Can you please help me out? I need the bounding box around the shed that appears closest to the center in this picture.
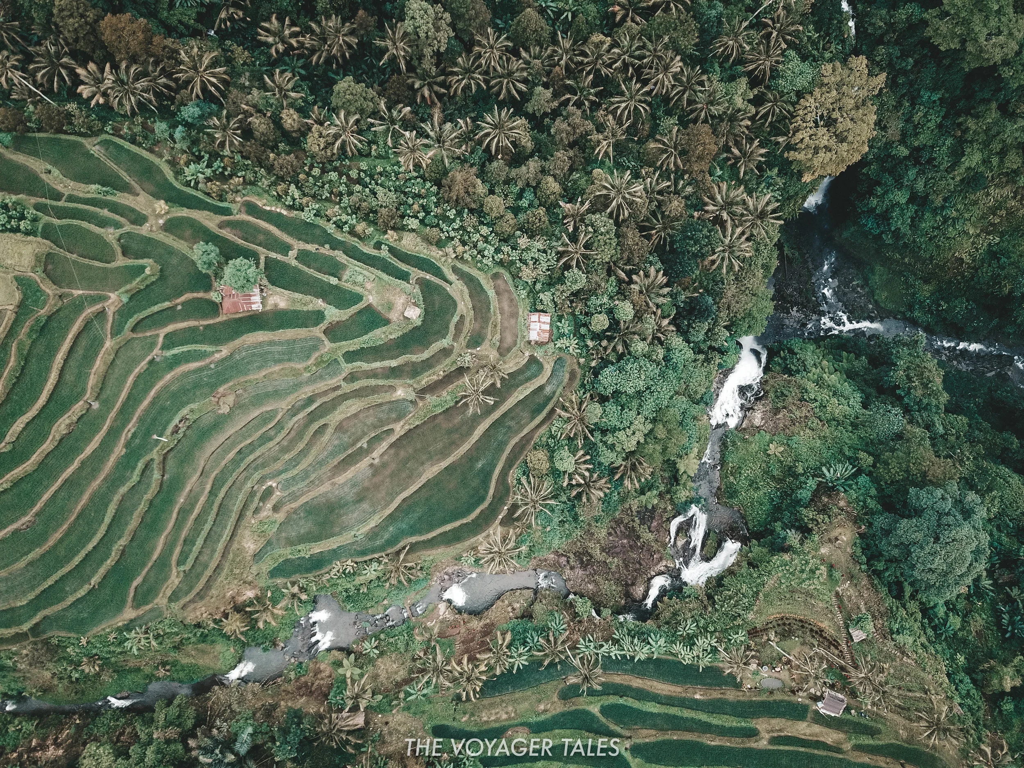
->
[528,313,552,345]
